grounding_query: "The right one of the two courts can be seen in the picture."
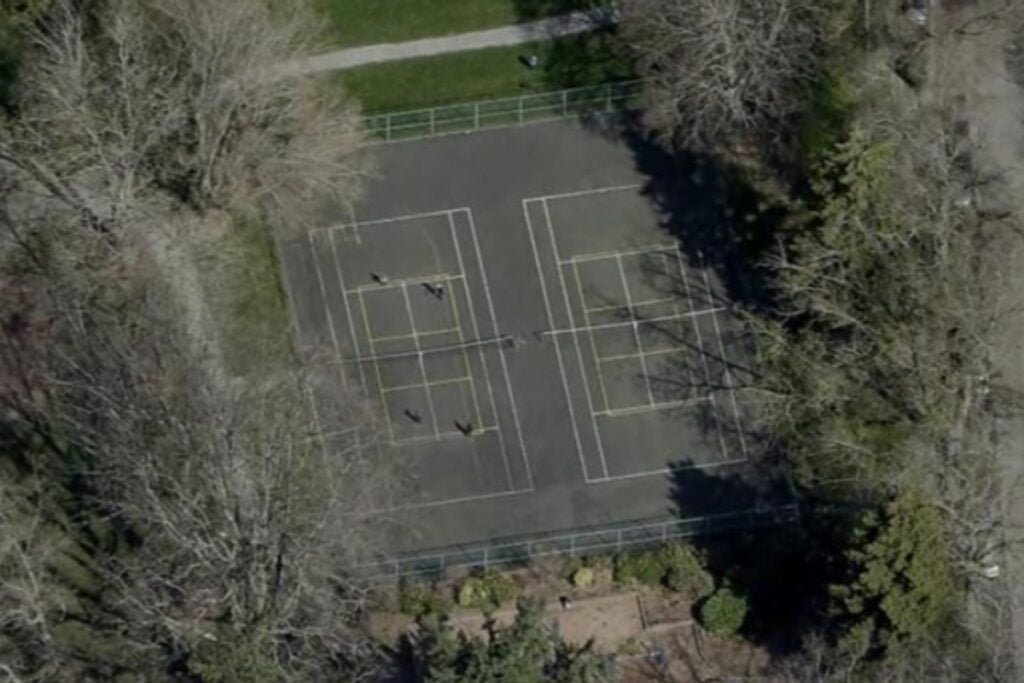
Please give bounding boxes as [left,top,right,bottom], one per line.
[514,163,758,498]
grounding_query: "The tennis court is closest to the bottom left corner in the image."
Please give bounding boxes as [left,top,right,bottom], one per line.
[302,193,542,526]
